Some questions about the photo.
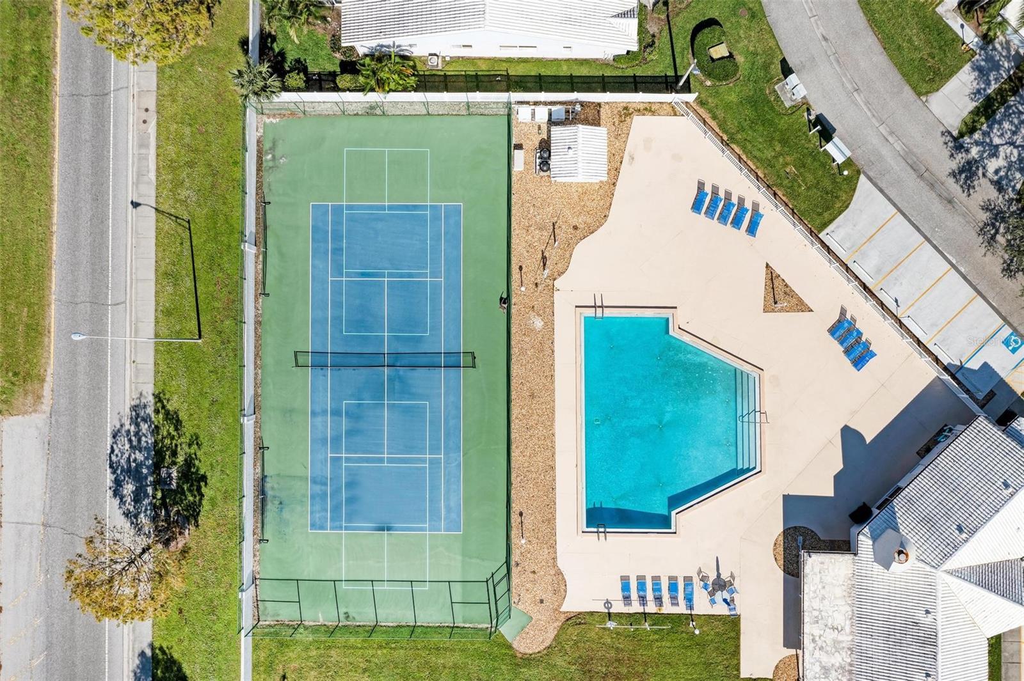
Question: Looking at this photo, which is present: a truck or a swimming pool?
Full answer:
I can see a swimming pool in this picture.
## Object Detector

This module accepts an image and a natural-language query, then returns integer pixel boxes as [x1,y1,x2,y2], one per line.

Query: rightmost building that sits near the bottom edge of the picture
[796,412,1024,681]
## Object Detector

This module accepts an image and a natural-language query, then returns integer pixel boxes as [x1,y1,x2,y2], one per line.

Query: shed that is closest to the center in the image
[551,124,608,185]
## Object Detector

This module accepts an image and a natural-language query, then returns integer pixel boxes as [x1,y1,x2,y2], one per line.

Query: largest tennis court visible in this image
[259,115,513,626]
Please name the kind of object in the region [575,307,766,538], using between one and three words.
swimming pool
